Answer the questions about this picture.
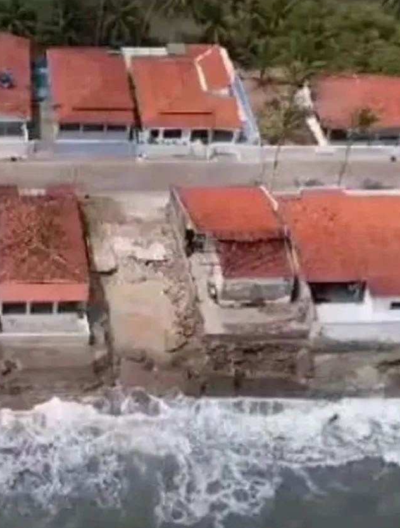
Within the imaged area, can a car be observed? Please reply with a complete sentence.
No, there appears to be no car in this shot.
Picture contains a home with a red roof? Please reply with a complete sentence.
Yes, I can see a home with a red roof in this picture.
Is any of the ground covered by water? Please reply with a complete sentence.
Yes, the picture does contain water.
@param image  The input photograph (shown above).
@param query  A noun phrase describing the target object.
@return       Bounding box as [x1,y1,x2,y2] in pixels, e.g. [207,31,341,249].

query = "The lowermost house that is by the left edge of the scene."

[0,184,100,339]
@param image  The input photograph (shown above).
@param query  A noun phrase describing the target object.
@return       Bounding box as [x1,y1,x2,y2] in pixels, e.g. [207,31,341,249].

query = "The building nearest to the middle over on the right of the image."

[183,186,307,333]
